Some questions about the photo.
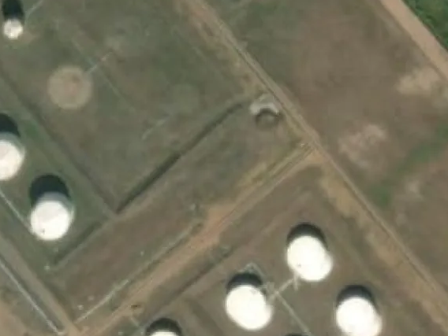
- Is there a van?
No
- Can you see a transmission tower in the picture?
No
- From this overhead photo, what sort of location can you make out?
industrial area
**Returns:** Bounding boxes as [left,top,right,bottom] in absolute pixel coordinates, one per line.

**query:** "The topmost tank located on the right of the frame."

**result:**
[286,231,333,281]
